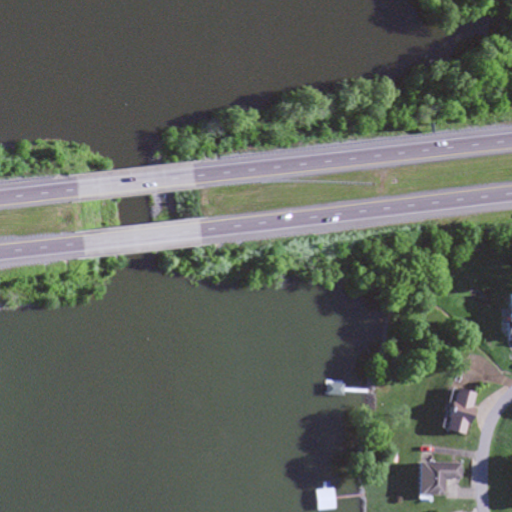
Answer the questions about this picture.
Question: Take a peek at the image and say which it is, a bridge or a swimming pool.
bridge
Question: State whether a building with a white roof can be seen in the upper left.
No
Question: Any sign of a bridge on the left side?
Yes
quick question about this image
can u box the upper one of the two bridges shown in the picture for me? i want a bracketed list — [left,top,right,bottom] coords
[74,160,200,203]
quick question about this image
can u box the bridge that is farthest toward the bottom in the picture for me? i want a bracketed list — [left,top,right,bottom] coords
[79,216,206,260]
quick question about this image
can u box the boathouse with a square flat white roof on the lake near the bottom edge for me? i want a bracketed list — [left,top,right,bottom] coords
[316,486,338,510]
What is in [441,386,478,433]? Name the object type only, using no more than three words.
house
